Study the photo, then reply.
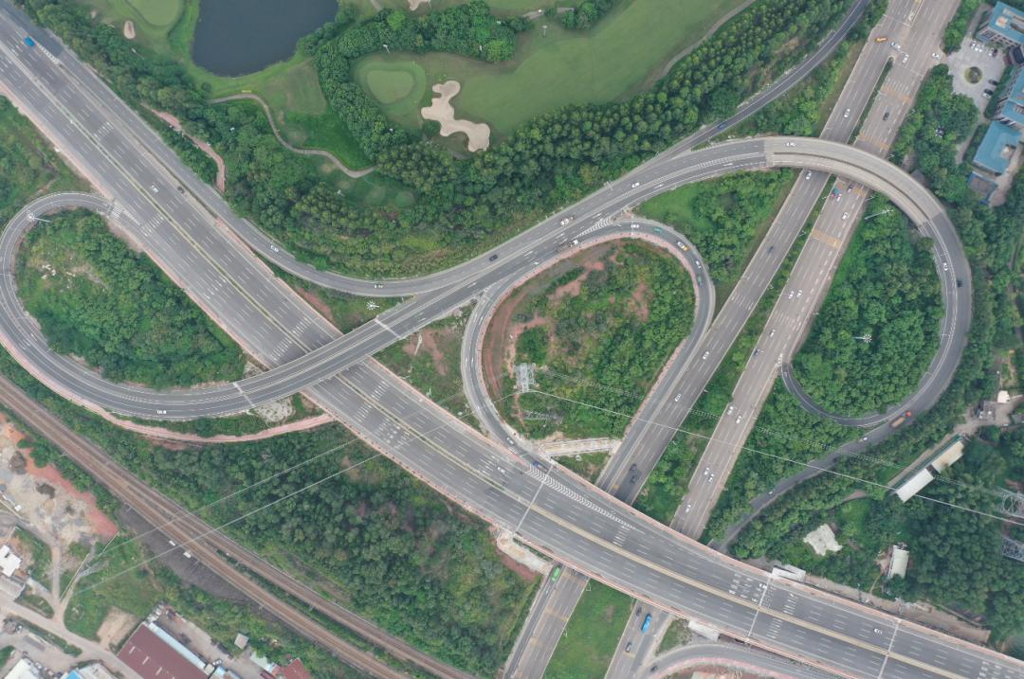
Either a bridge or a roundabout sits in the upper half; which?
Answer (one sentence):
You can see a bridge in the upper half.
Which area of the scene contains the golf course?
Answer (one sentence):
The golf course sits in the top section of the image.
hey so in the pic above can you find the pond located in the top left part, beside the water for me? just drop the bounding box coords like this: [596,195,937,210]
[191,0,338,76]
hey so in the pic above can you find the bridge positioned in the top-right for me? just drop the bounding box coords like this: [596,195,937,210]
[764,136,945,225]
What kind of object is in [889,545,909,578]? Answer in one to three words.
house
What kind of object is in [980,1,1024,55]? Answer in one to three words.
building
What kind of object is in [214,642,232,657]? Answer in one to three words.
vehicle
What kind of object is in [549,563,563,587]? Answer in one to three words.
vehicle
